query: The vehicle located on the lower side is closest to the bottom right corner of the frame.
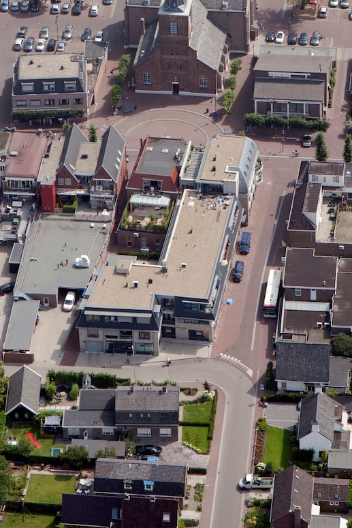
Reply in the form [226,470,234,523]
[238,474,274,491]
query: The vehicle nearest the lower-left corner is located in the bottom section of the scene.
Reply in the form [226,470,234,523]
[135,444,162,457]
